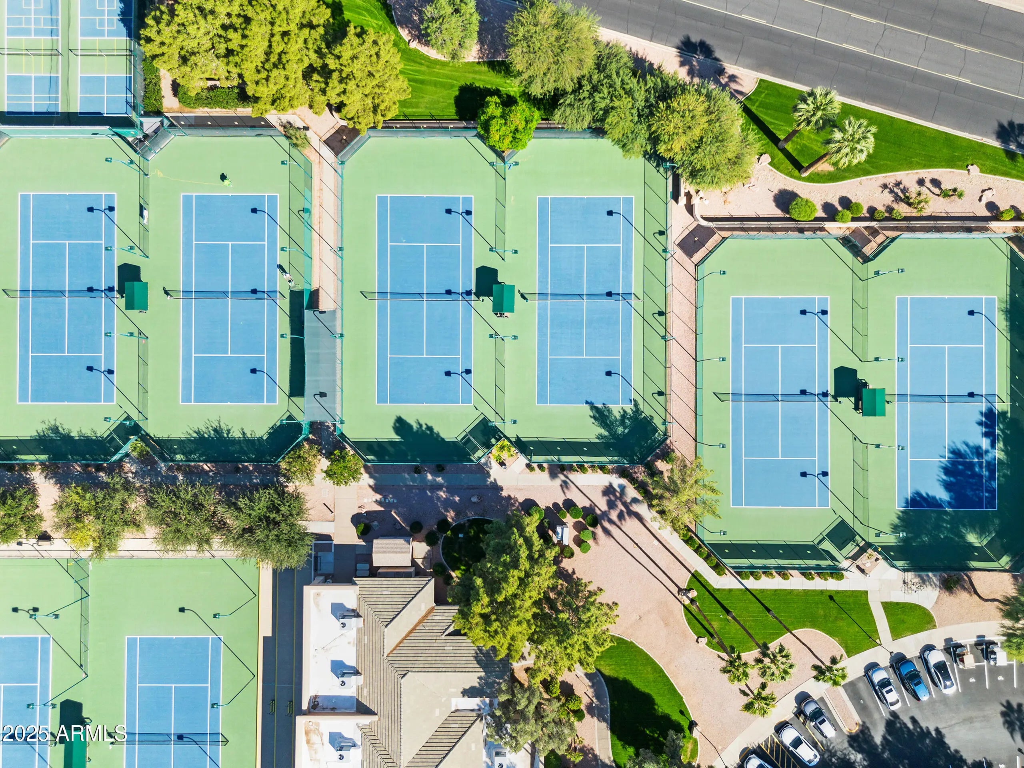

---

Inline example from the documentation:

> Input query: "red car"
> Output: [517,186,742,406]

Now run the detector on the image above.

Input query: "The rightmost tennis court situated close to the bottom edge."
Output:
[88,559,257,768]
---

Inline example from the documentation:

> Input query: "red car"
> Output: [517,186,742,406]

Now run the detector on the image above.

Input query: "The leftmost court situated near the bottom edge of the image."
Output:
[0,559,88,768]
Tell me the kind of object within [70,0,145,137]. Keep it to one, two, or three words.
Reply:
sports court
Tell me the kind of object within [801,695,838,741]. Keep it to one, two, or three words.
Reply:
car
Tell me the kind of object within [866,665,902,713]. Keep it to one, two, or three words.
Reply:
car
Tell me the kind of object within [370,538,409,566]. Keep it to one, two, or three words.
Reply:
shed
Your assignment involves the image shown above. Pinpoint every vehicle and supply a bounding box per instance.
[897,656,933,704]
[744,751,768,768]
[954,646,976,670]
[866,665,902,713]
[801,695,838,741]
[777,720,821,768]
[924,646,959,697]
[986,644,1007,668]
